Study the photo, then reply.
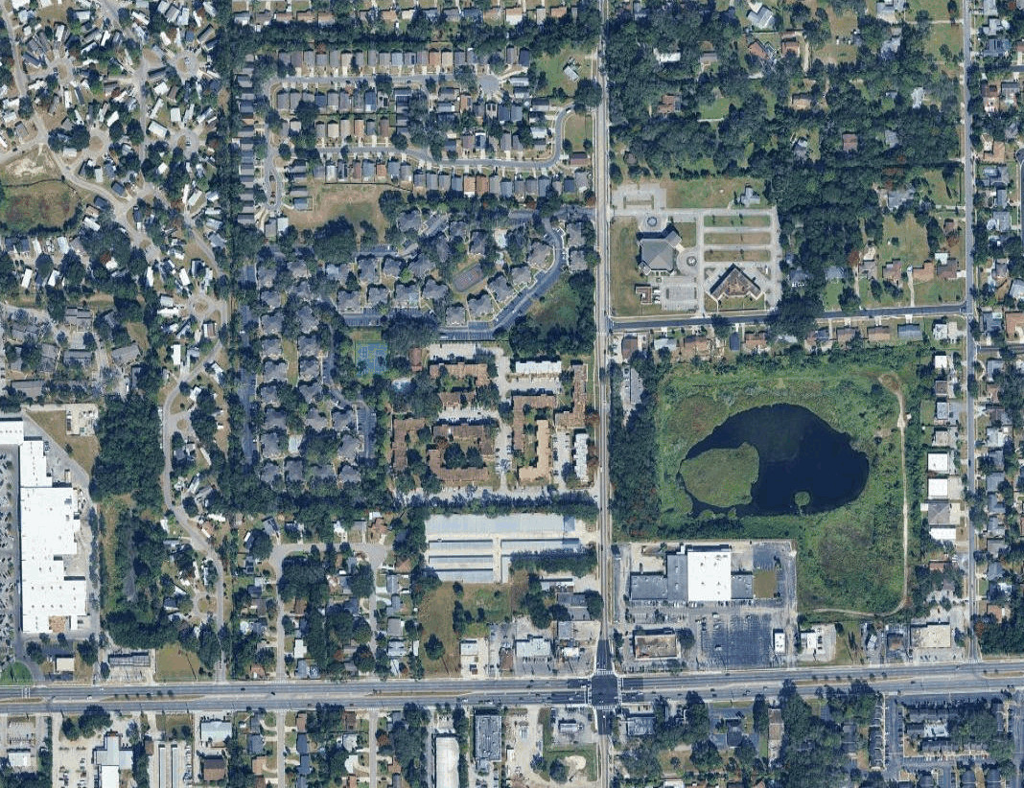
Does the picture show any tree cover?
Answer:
Yes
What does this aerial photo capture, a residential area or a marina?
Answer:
residential area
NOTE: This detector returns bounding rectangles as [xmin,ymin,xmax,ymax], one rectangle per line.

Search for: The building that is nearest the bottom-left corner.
[8,753,31,767]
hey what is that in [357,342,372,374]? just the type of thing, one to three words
tennis court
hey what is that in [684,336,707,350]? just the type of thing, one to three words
house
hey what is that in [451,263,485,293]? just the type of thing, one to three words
basketball court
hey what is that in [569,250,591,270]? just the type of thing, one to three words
building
